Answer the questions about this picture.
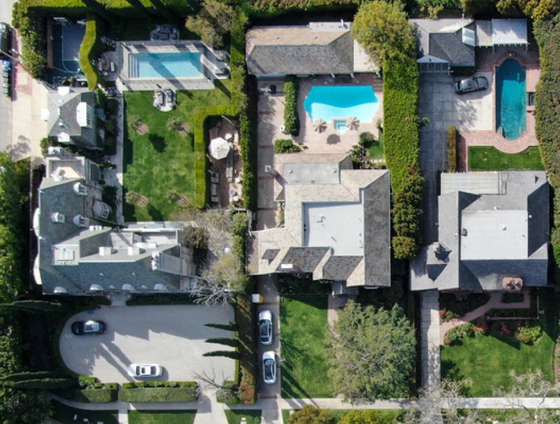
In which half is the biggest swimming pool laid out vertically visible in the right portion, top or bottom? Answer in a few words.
top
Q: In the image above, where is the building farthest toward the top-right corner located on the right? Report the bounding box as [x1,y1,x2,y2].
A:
[476,18,528,53]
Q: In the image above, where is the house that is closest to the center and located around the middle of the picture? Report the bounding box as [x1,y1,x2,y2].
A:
[250,153,393,295]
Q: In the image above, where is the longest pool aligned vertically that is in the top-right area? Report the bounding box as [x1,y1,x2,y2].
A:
[494,57,528,142]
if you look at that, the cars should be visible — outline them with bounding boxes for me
[129,363,164,378]
[257,310,274,344]
[71,320,107,335]
[0,24,12,60]
[260,351,278,384]
[455,75,489,93]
